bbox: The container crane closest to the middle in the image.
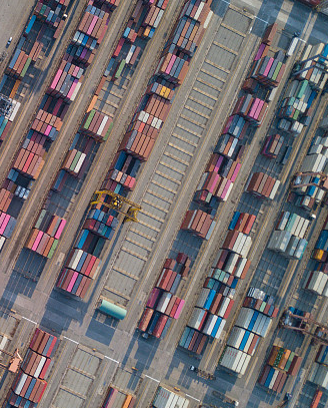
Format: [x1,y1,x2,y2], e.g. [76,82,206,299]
[81,185,144,225]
